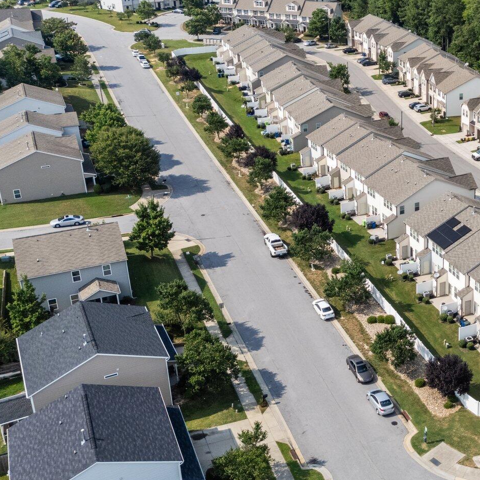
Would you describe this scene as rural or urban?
urban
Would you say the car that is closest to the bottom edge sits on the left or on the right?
right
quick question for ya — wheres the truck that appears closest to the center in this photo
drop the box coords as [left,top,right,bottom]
[264,233,288,254]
